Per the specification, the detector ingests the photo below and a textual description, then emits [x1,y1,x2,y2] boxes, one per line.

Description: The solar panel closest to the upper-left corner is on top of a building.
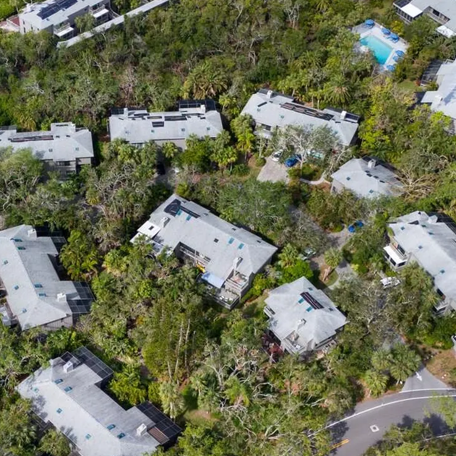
[36,0,77,20]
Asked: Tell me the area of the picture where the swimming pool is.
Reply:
top right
